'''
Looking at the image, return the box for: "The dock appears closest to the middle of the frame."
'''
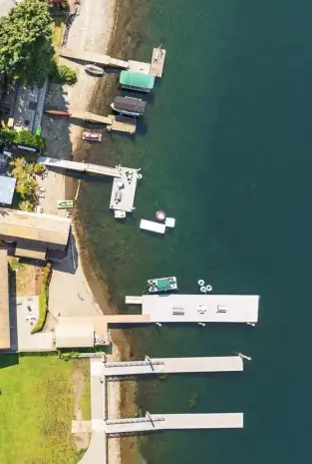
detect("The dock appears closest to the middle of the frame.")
[110,165,141,212]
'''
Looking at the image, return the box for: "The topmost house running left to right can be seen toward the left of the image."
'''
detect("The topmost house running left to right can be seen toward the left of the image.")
[0,209,72,247]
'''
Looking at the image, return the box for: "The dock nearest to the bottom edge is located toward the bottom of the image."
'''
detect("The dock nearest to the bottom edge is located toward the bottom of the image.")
[104,412,243,432]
